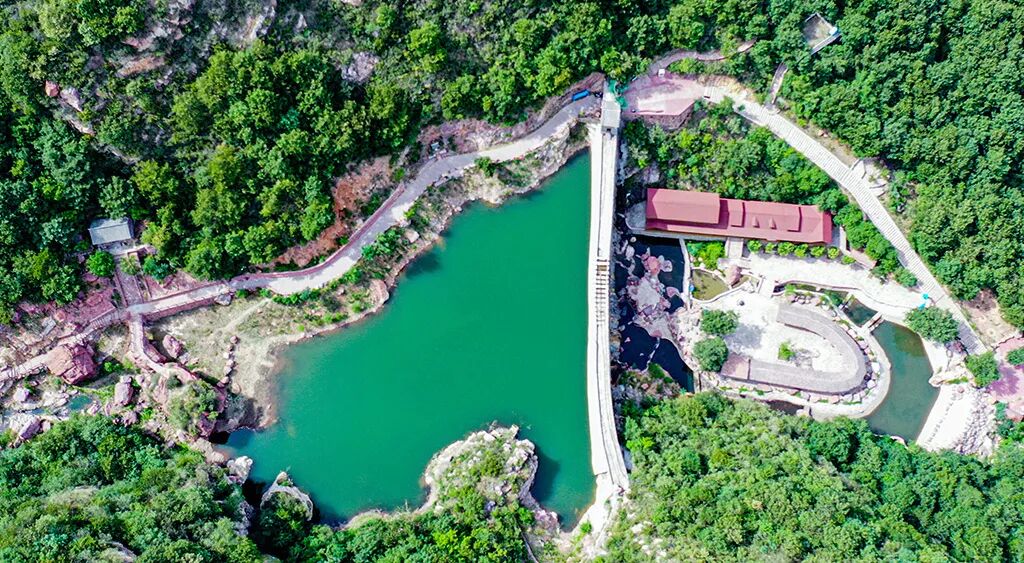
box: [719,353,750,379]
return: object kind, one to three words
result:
building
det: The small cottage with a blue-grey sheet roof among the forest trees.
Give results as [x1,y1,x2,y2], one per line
[85,215,134,245]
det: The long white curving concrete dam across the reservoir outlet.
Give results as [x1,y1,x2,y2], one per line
[586,127,629,492]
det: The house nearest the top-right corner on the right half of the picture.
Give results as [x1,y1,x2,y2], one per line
[798,12,841,53]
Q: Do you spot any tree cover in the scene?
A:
Yes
